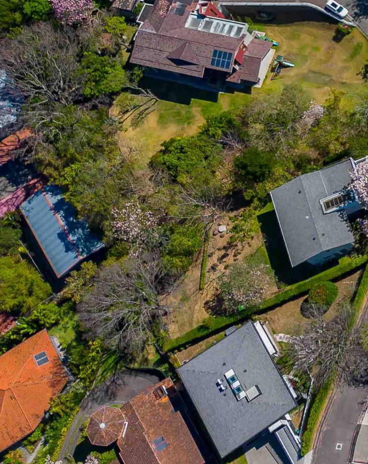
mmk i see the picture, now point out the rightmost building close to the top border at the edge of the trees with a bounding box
[130,0,276,83]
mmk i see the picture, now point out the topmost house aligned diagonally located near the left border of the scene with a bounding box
[0,127,43,163]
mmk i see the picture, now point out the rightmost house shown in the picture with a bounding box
[269,156,368,267]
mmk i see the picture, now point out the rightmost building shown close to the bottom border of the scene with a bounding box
[178,318,305,464]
